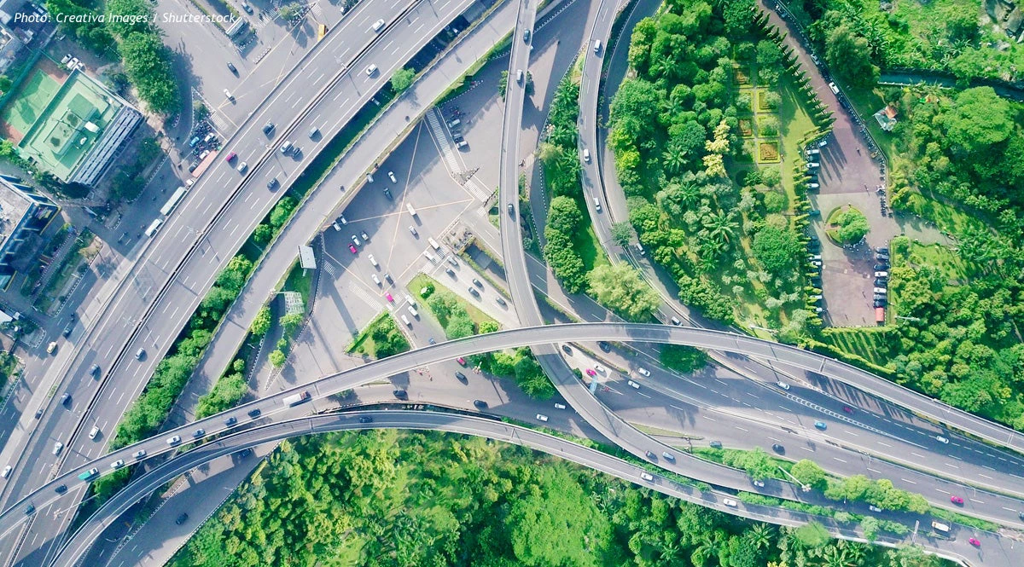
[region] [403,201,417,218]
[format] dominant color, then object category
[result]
white vehicle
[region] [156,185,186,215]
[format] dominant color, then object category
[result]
white bus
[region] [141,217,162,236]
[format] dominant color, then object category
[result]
white vehicle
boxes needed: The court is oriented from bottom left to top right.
[0,56,69,143]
